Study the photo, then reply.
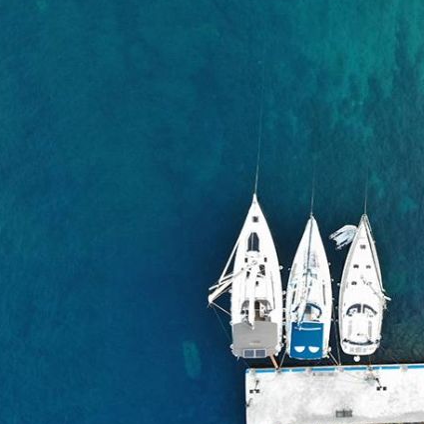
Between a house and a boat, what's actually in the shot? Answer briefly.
boat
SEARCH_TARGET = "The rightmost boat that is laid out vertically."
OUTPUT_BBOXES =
[339,179,390,370]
